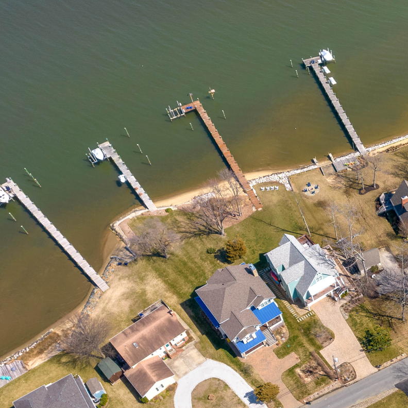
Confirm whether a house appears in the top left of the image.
No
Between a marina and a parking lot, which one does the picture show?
marina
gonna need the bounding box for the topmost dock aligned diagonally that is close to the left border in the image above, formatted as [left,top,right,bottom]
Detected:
[0,177,108,293]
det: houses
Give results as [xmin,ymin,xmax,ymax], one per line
[194,261,285,361]
[110,297,188,400]
[378,185,408,226]
[3,373,97,408]
[263,230,353,312]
